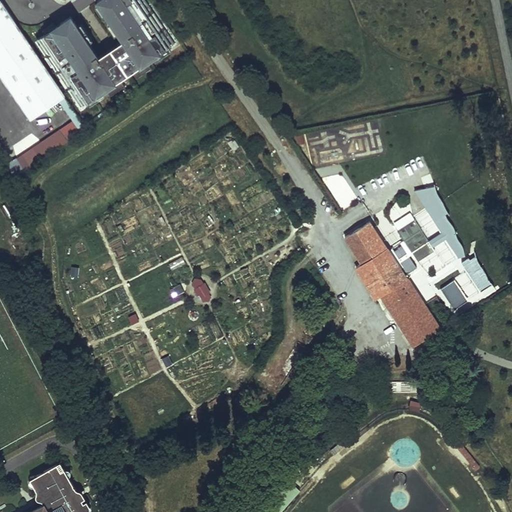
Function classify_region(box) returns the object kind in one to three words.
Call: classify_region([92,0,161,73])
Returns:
building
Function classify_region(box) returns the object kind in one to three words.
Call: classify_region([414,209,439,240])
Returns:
building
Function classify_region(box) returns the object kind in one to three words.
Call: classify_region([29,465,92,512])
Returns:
house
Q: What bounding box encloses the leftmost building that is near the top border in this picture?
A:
[0,2,64,122]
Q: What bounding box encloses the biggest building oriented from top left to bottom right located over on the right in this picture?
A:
[345,222,438,348]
